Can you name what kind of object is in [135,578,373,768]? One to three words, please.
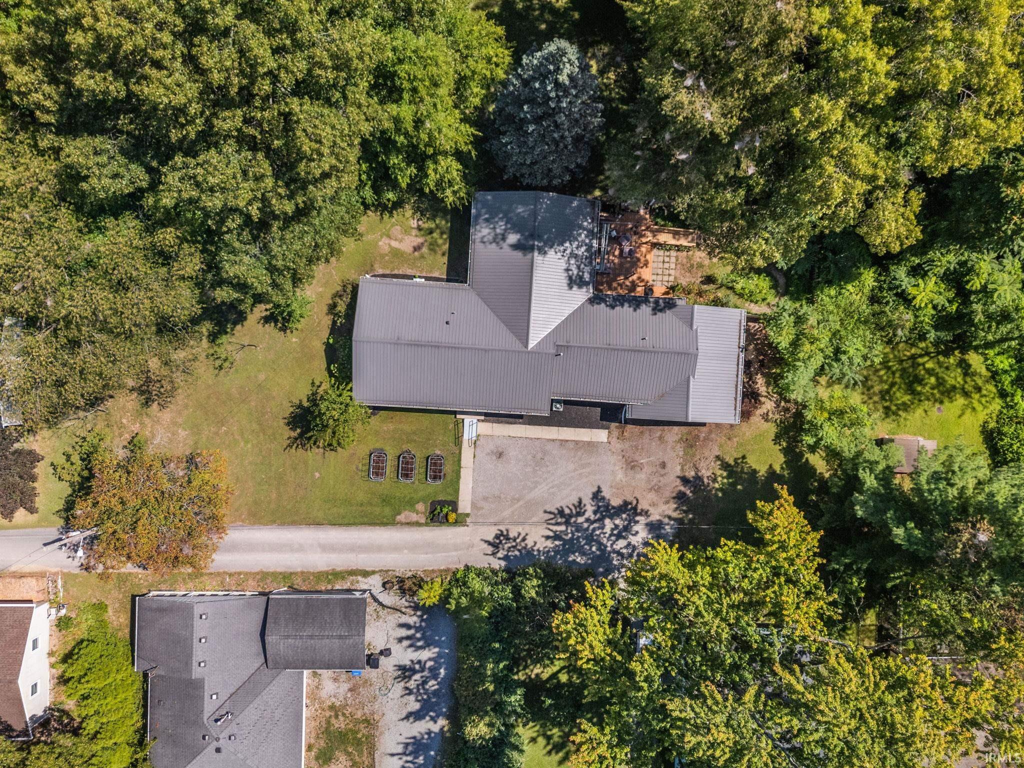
house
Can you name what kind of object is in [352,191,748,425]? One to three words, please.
house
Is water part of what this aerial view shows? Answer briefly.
No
